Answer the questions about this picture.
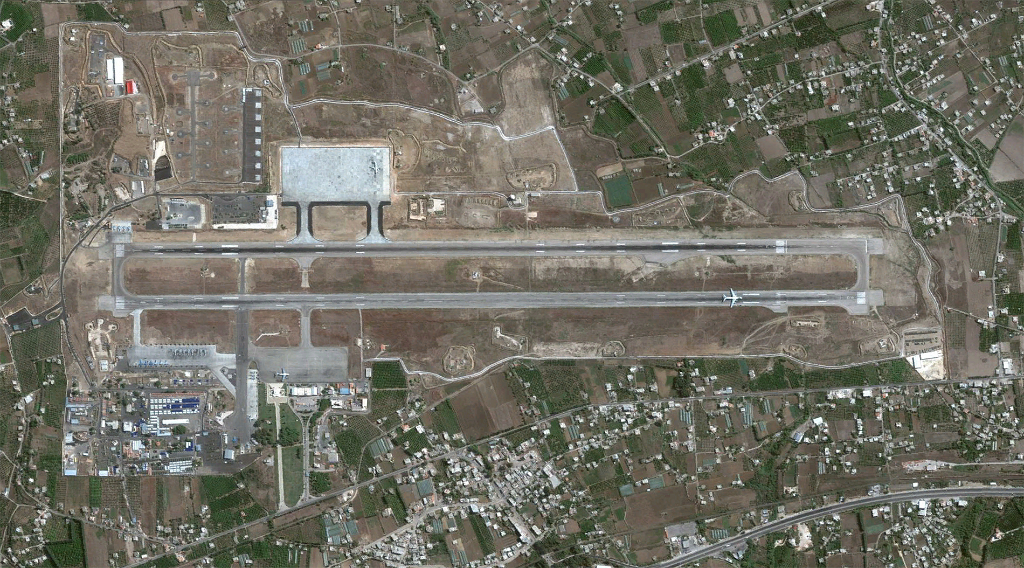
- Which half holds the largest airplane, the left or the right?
right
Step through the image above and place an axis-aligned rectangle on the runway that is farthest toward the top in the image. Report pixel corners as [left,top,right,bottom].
[114,239,869,258]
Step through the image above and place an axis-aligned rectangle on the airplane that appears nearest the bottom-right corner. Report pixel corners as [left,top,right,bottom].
[722,288,742,308]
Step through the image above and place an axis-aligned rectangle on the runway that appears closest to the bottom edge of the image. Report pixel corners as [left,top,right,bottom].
[114,291,869,310]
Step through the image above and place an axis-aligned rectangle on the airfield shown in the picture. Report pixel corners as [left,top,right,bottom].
[99,71,883,452]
